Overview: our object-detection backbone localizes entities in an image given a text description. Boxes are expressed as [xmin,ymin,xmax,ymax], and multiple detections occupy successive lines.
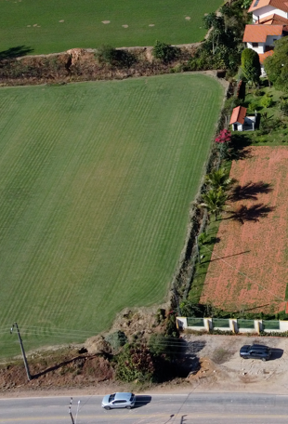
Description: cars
[239,343,272,361]
[101,390,136,409]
